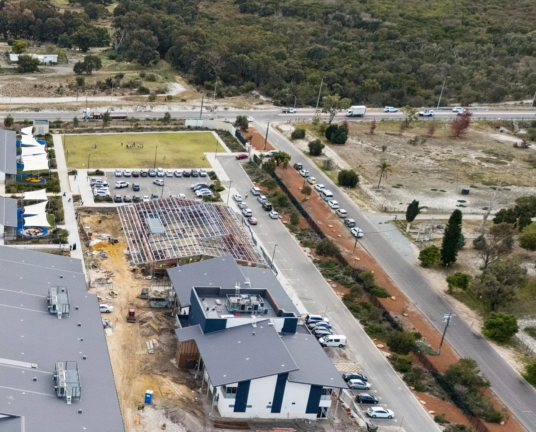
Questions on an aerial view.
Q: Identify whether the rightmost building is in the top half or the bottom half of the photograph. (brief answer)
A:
bottom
